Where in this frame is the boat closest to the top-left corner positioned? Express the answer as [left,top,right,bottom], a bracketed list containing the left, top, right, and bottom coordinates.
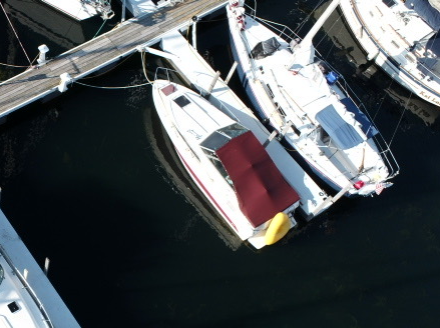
[41,0,111,34]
